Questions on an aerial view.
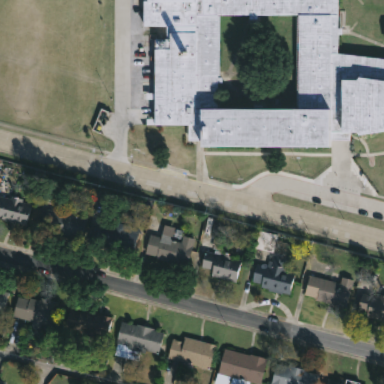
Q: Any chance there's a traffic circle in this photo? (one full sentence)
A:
No, I can see no traffic circle in this picture.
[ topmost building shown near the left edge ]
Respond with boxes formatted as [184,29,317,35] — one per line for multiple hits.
[0,194,31,224]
